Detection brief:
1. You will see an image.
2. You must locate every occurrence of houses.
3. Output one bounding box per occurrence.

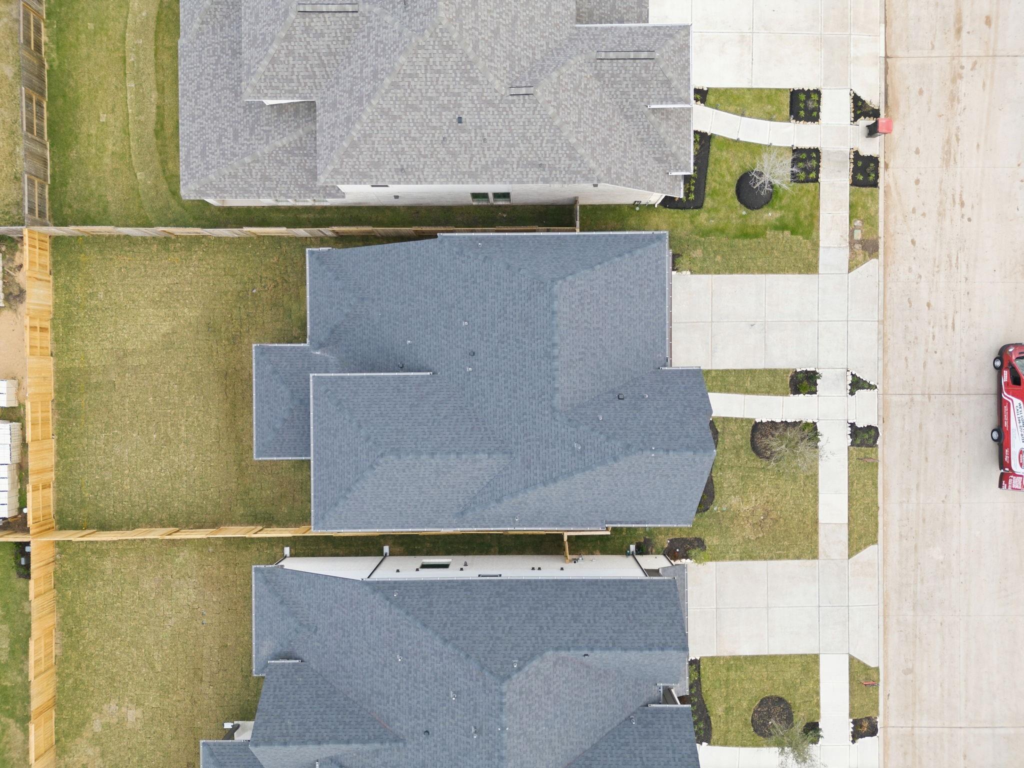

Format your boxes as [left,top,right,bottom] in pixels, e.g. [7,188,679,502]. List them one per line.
[199,550,701,768]
[251,230,715,533]
[178,0,695,207]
